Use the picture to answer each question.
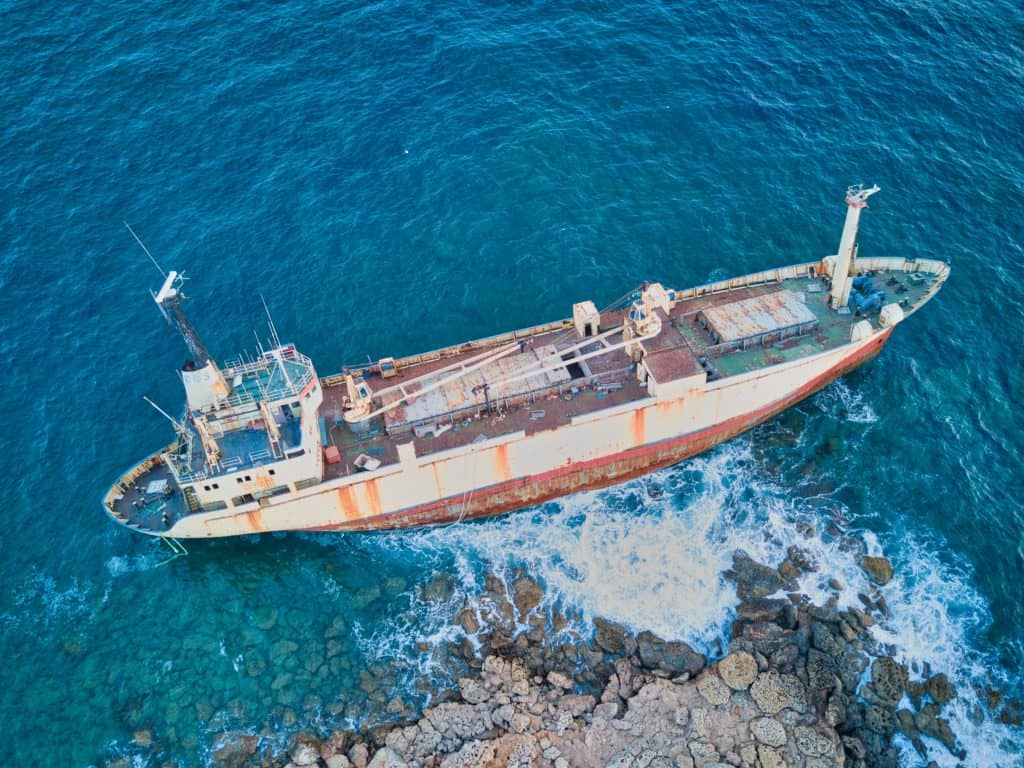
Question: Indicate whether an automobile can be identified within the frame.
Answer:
No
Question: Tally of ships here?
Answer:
1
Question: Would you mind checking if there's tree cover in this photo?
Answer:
No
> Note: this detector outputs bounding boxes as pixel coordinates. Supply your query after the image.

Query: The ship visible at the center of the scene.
[102,182,951,571]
